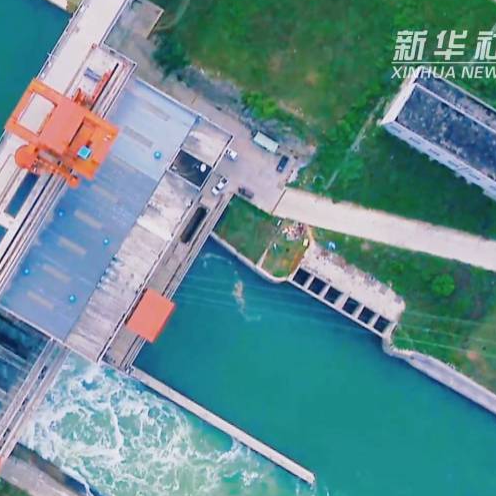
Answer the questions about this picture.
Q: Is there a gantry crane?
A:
Yes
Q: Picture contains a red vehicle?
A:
No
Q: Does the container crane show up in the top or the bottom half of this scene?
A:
top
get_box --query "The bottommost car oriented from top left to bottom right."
[238,186,254,198]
